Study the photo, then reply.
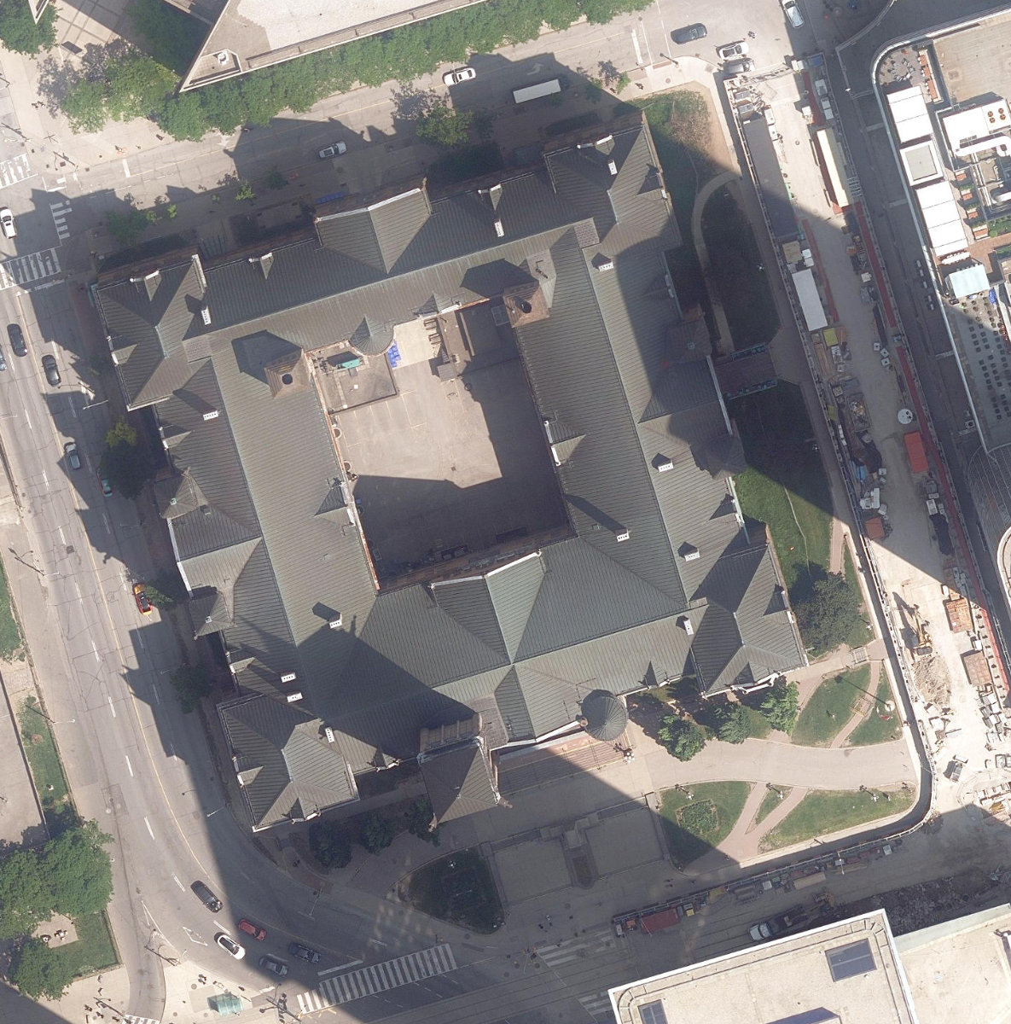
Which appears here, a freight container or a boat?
freight container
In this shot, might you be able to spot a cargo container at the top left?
No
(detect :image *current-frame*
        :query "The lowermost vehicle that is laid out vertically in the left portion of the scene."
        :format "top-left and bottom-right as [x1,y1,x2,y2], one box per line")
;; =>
[134,583,152,617]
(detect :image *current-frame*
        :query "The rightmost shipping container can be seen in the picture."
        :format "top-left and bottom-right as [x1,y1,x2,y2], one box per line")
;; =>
[904,431,931,476]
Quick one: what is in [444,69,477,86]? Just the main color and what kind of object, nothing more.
white car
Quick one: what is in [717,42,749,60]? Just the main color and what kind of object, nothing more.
white car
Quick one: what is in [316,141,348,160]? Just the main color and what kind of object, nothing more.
gray vehicle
